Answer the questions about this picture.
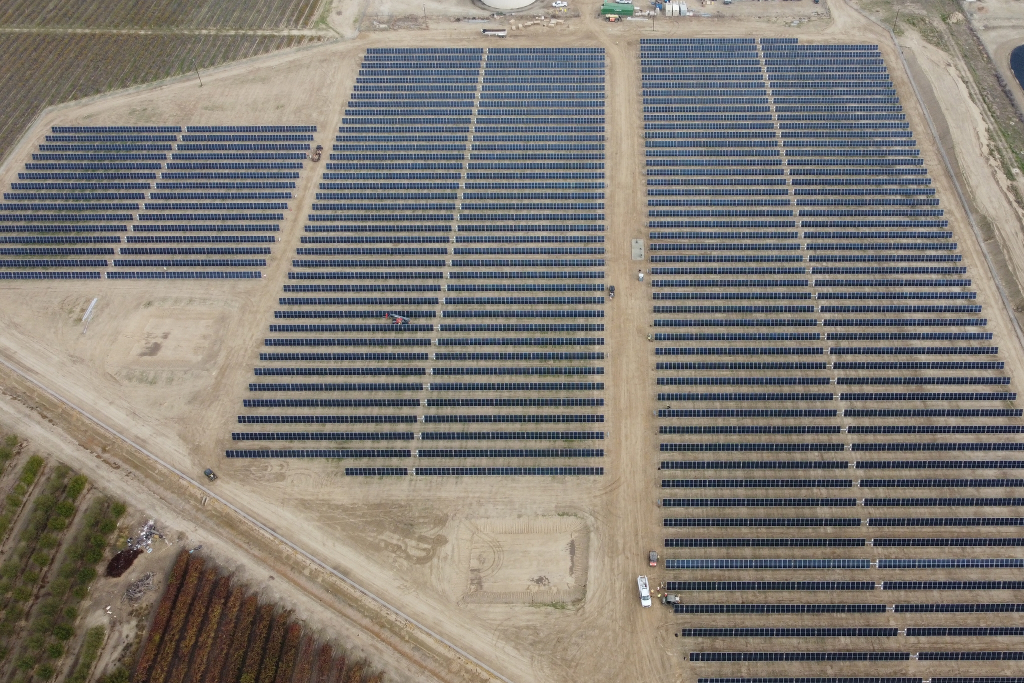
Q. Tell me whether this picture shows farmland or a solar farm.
solar farm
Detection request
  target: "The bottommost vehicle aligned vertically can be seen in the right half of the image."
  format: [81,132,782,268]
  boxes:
[637,573,652,606]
